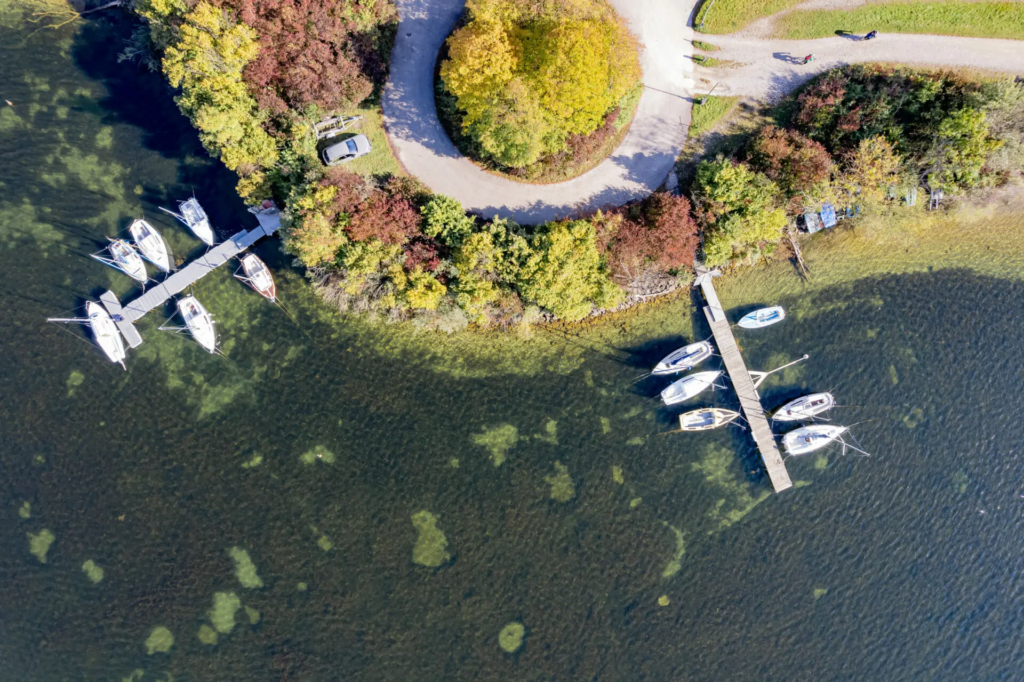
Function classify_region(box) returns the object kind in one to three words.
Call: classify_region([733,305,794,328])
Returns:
boat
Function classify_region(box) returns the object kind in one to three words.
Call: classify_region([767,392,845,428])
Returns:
boat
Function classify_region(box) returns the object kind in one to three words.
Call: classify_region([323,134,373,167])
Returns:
car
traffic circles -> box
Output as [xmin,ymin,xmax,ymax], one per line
[381,0,698,227]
